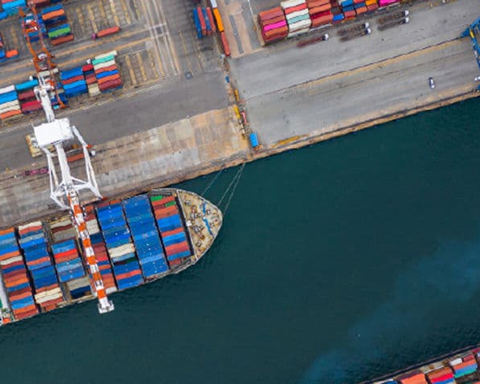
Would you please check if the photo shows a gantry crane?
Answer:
Yes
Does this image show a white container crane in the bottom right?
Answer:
No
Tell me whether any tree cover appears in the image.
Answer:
No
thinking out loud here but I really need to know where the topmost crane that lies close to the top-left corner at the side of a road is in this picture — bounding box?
[18,3,56,62]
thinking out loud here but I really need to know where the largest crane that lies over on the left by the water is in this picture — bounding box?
[35,75,119,313]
